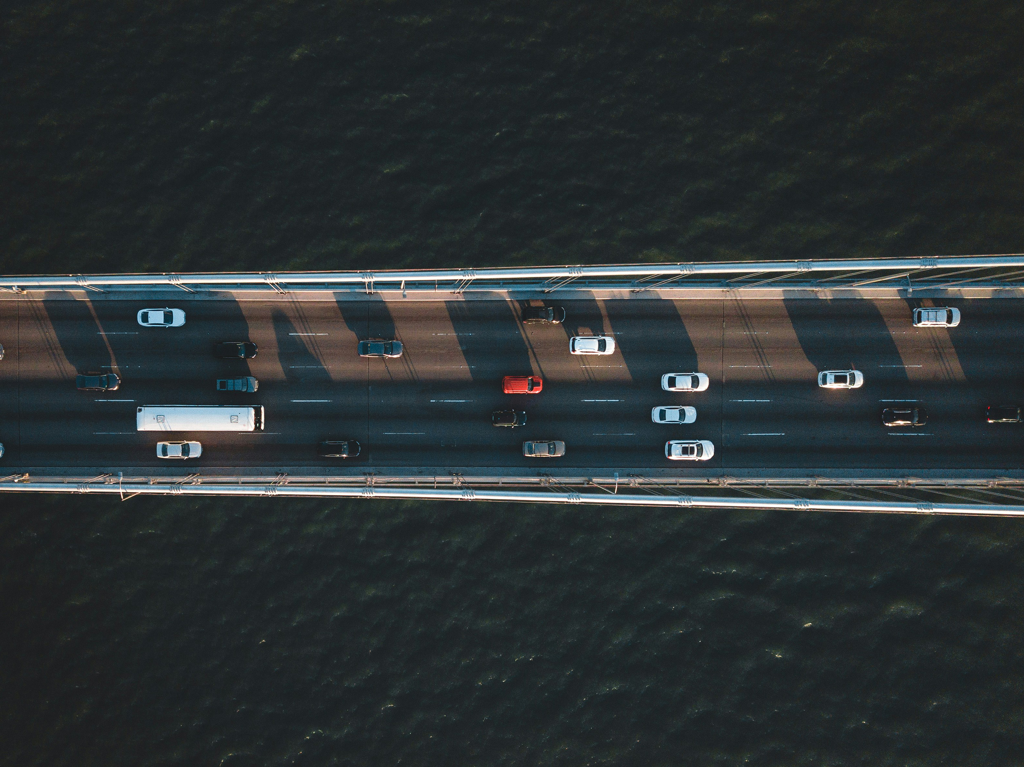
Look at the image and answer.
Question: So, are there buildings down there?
No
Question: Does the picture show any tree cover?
No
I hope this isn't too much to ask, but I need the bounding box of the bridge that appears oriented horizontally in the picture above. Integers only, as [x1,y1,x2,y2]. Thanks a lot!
[0,254,1024,518]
